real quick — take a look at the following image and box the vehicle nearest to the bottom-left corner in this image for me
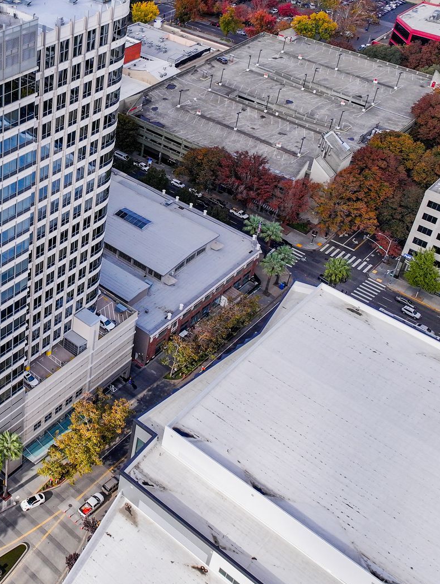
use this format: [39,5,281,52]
[22,492,44,515]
